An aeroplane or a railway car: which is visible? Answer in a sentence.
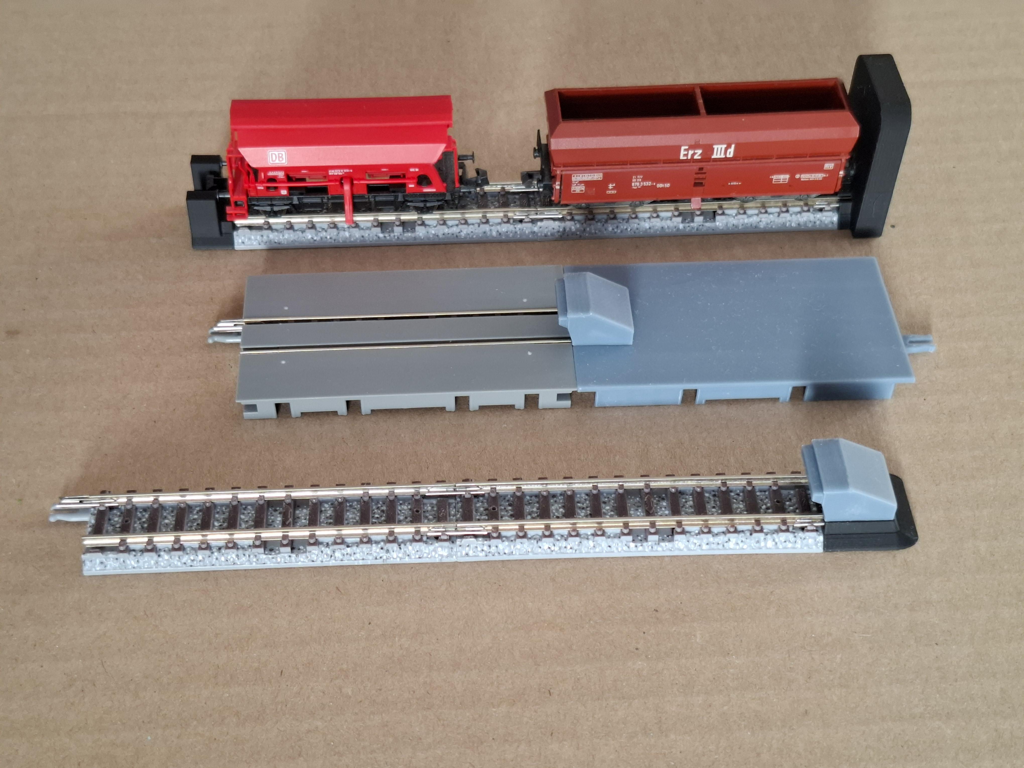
The image shows a railway car.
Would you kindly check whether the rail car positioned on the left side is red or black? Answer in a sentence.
From above, the rail car positioned on the left side appears red.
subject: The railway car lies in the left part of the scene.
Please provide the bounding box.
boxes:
[207,92,485,225]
